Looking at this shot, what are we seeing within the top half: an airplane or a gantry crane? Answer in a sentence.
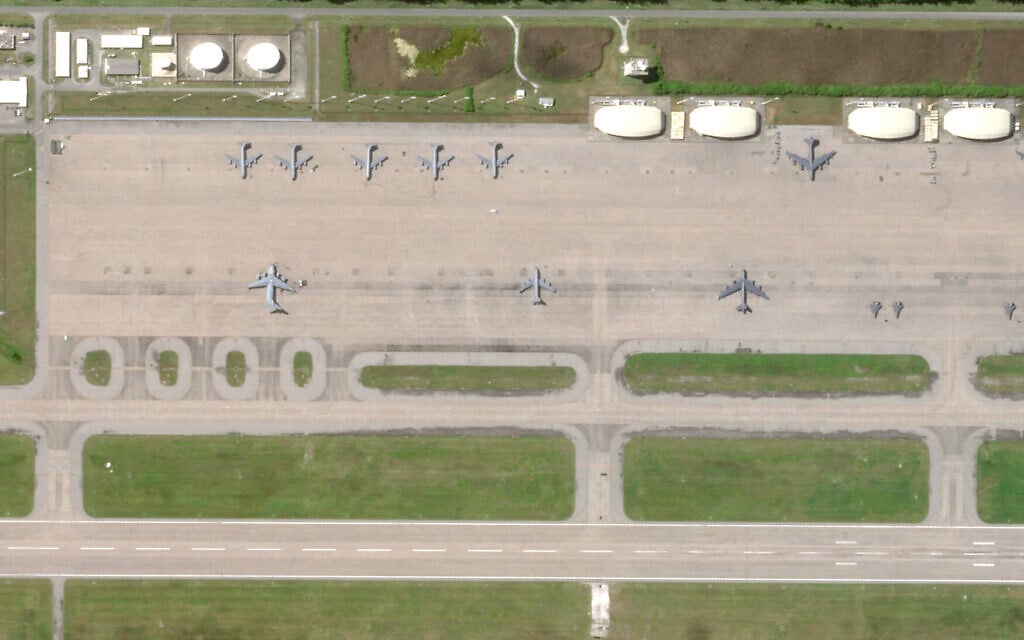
What appears within the top half is an airplane.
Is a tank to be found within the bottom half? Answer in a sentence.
No, I can find no tank within the bottom half.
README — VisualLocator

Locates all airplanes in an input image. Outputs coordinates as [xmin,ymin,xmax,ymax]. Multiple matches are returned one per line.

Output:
[870,301,882,319]
[275,142,311,180]
[718,270,769,313]
[350,142,387,180]
[786,136,837,181]
[225,141,261,178]
[519,267,556,304]
[893,301,904,319]
[1005,302,1017,320]
[249,264,296,309]
[417,142,453,180]
[476,141,513,179]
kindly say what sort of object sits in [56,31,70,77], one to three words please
building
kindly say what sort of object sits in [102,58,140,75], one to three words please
building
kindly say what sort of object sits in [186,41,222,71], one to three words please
storage tank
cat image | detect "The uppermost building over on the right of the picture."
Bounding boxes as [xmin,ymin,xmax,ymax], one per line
[624,57,649,75]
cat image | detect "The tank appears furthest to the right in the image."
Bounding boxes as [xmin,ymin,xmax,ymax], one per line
[243,41,280,77]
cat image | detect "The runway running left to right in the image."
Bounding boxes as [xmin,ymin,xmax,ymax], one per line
[0,521,1024,582]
